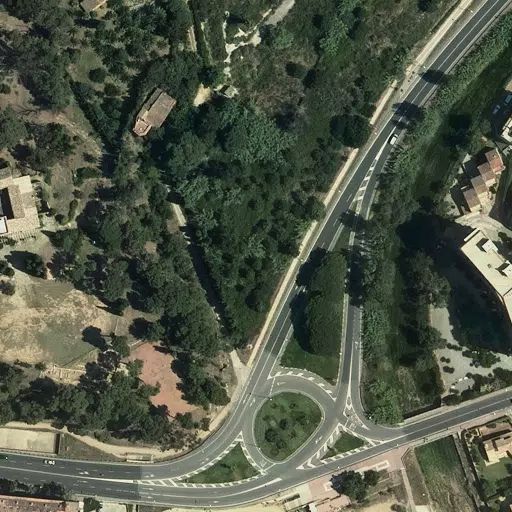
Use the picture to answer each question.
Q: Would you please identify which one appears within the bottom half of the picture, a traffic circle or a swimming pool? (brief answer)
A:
traffic circle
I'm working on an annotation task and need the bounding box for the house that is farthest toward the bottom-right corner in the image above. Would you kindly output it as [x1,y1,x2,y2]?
[483,432,512,466]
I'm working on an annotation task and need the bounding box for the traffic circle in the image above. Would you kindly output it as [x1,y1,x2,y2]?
[248,380,334,473]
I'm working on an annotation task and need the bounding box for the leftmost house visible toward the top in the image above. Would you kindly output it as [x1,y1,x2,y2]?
[0,166,40,234]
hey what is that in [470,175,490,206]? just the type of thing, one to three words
house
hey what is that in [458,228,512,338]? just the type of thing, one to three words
building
